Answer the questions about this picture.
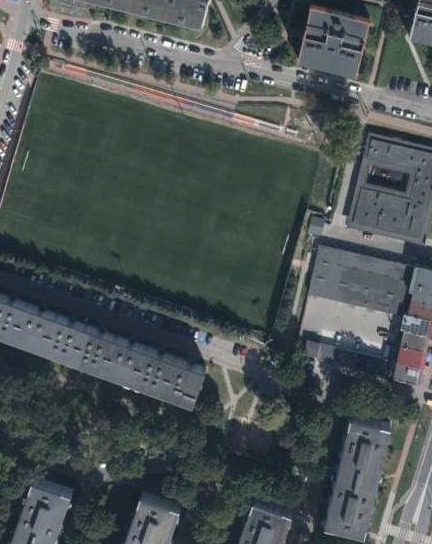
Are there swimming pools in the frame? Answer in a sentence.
No, there's no swimming pool here.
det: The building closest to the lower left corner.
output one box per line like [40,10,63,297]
[10,477,73,544]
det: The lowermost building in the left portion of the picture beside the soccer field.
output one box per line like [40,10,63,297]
[0,287,209,409]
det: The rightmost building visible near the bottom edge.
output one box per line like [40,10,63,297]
[323,417,395,543]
